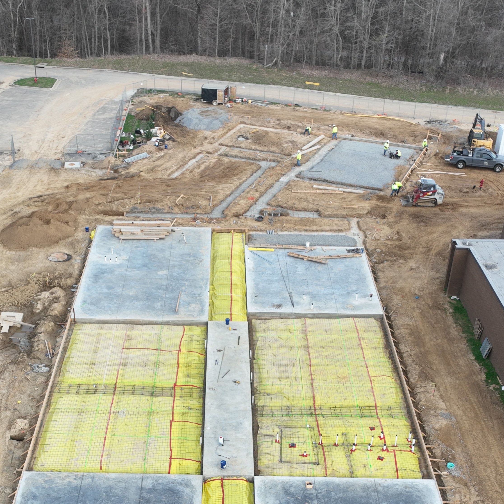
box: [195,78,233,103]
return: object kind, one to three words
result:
trailer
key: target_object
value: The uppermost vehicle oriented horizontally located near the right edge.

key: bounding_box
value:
[447,142,504,172]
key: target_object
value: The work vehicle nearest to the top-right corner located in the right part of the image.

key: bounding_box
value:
[463,98,491,146]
